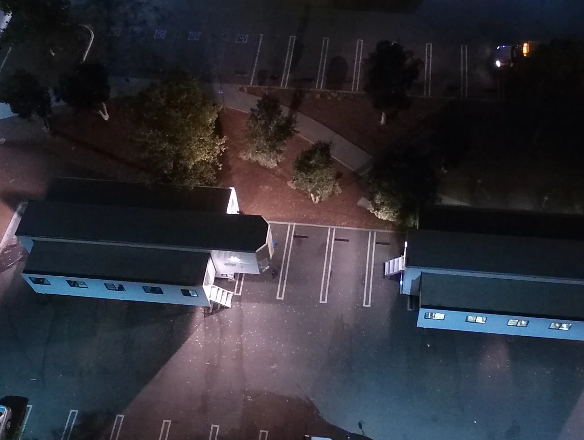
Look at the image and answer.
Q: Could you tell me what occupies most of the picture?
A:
paved ground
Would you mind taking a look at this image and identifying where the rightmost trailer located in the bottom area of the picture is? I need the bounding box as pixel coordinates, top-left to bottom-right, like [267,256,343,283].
[403,203,584,339]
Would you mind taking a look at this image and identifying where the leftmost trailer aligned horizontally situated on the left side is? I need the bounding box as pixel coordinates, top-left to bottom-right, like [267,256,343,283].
[19,177,275,308]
